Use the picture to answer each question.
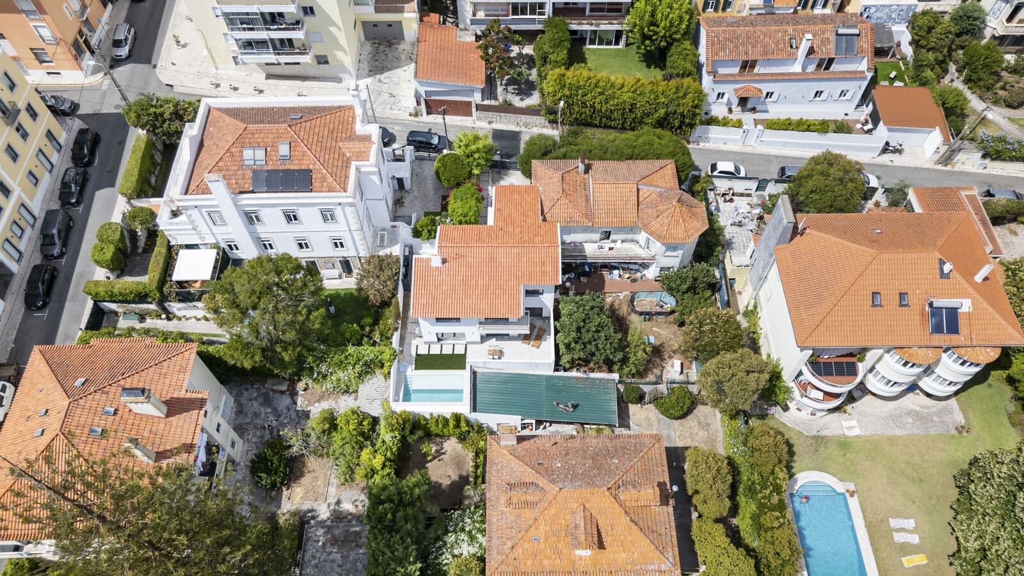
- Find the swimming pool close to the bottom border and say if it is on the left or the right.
right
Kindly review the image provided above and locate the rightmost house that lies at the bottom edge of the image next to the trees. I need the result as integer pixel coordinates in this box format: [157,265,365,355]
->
[484,424,682,576]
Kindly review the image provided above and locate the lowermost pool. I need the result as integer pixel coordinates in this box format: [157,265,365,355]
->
[789,469,883,576]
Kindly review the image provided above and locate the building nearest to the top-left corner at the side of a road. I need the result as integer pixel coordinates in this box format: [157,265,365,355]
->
[0,0,112,79]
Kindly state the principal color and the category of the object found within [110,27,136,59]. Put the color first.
gray car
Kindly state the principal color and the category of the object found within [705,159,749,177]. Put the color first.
white car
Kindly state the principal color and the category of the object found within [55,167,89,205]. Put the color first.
black car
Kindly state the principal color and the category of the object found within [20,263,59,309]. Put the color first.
black car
